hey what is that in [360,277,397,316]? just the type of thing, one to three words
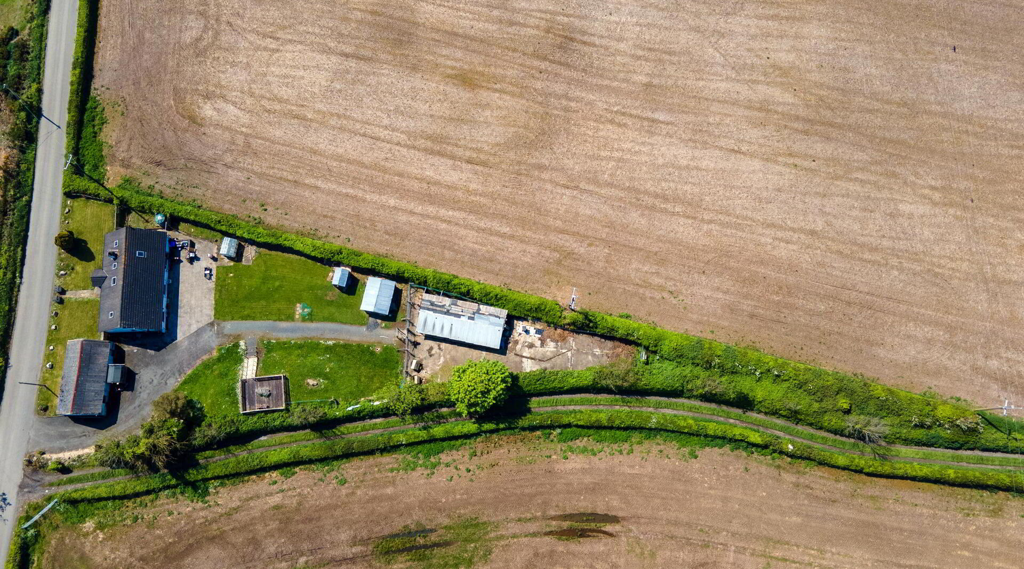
shed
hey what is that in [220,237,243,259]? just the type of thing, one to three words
greenhouse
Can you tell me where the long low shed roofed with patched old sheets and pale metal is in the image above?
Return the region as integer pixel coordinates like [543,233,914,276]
[415,294,508,349]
